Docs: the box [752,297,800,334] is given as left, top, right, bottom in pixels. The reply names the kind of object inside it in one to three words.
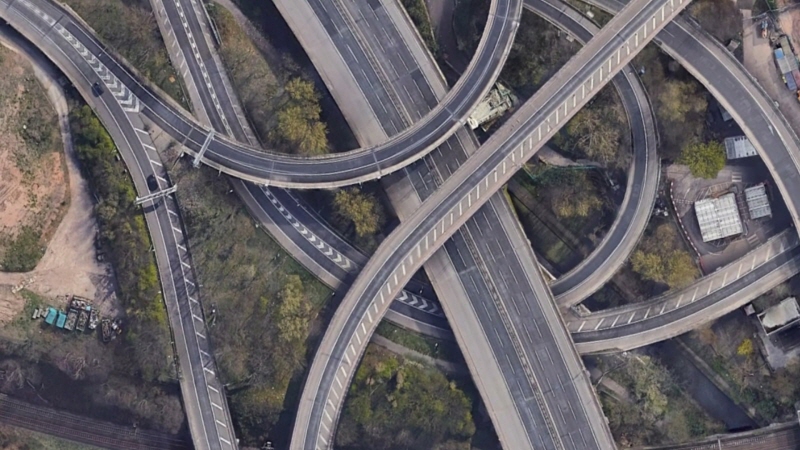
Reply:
building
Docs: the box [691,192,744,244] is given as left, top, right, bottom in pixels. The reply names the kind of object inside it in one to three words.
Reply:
building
